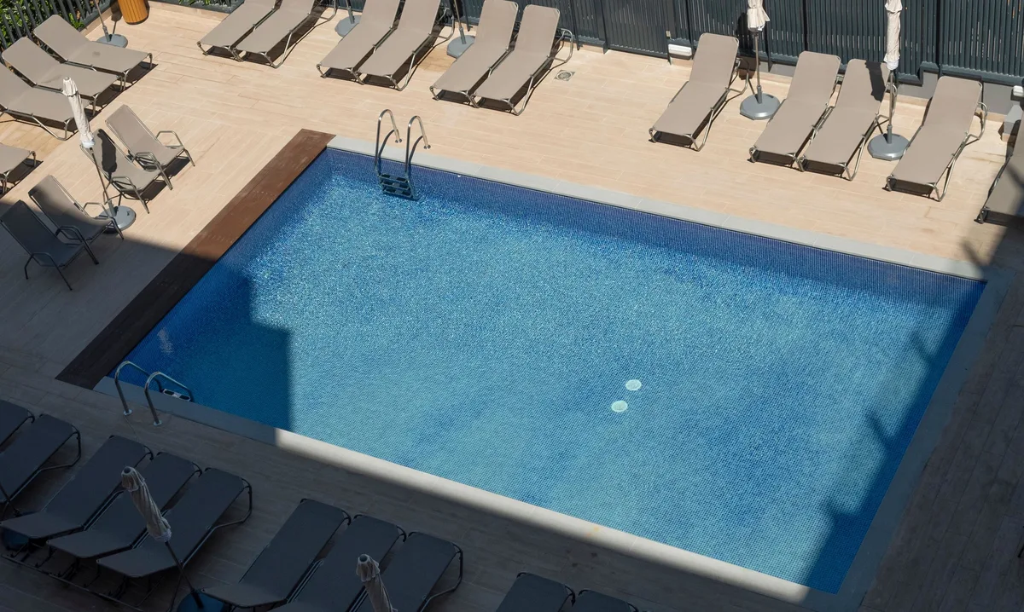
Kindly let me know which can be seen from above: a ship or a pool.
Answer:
pool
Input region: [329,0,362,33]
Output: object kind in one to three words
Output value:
umbrella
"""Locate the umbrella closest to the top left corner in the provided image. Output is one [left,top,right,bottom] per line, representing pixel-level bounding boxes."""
[95,0,128,47]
